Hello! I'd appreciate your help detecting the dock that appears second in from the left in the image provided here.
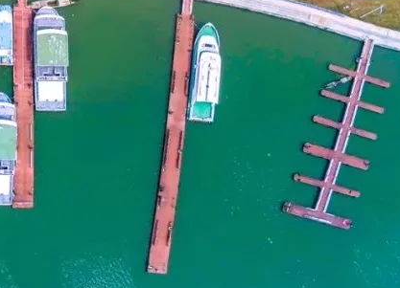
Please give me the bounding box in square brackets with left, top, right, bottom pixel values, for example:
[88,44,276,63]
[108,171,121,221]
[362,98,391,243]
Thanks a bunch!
[147,0,195,273]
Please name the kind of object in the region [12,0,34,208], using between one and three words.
pier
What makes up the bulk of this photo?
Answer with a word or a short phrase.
water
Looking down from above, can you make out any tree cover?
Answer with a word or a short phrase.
No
